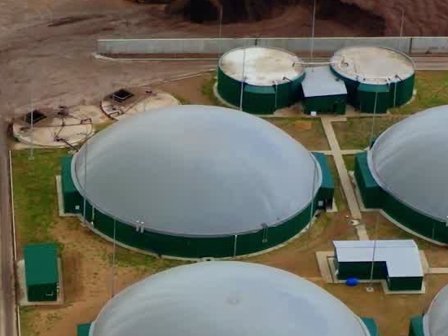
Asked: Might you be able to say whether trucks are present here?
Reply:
No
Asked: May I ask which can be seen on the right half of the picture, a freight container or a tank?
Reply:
tank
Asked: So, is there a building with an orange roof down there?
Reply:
No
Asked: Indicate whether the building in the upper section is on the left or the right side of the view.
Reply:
right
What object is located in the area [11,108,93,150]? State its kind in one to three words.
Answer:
storage tank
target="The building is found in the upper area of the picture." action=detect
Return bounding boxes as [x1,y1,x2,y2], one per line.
[294,64,349,120]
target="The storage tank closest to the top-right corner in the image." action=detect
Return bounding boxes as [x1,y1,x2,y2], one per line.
[330,47,416,116]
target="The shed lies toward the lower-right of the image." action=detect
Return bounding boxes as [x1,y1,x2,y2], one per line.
[319,238,432,298]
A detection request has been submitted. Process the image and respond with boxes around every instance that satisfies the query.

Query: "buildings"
[294,64,349,120]
[11,242,63,305]
[319,238,432,298]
